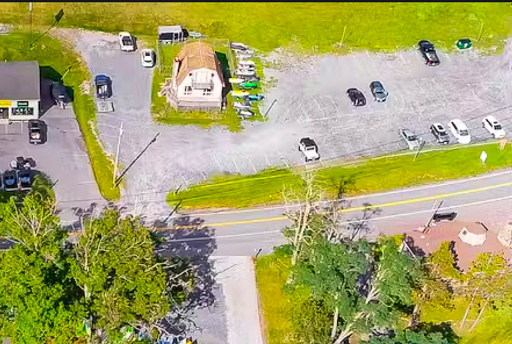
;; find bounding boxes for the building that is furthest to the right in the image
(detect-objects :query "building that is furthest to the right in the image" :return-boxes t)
[152,41,225,110]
